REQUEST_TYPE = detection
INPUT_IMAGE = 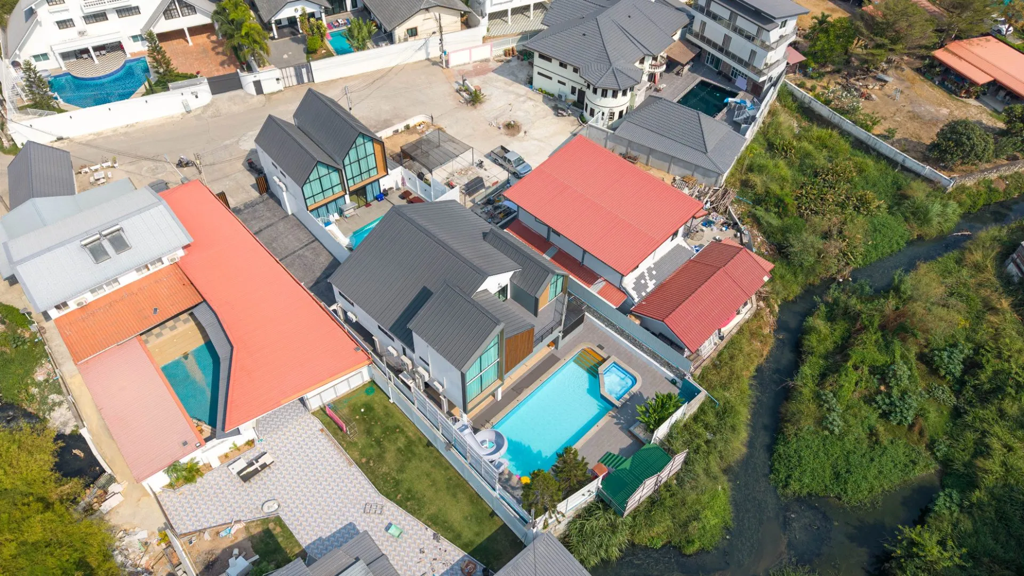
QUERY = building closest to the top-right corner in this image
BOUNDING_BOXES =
[934,27,1024,104]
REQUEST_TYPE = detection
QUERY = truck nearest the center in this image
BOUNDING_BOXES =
[487,148,532,178]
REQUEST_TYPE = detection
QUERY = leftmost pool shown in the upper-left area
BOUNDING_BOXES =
[50,55,153,108]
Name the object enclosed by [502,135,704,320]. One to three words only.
building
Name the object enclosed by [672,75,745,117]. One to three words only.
swimming pool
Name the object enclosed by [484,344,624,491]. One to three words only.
swimming pool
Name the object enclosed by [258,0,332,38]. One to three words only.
house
